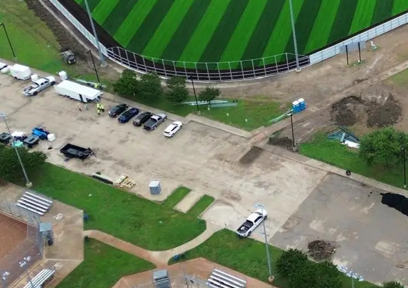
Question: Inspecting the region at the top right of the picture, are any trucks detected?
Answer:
No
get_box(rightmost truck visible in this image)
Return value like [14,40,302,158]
[235,209,267,236]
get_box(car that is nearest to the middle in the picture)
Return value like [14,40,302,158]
[163,122,183,137]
